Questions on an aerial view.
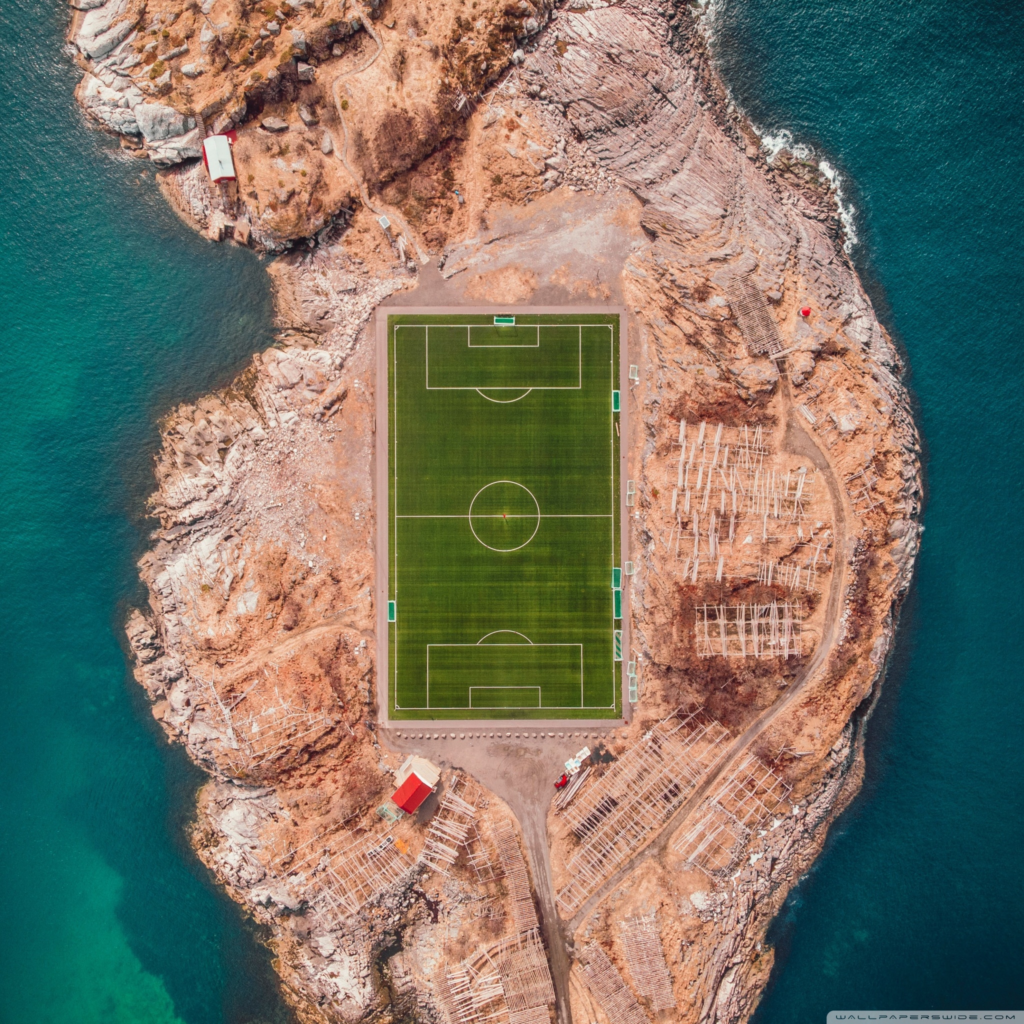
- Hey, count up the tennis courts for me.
0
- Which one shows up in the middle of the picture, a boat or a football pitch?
football pitch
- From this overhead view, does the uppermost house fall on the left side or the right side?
left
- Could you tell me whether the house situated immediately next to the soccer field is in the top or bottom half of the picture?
bottom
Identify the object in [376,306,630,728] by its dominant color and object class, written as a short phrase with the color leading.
green soccer field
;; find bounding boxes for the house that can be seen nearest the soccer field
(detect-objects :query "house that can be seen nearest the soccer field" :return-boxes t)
[392,754,441,814]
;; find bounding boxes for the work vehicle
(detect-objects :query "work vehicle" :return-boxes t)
[553,773,568,789]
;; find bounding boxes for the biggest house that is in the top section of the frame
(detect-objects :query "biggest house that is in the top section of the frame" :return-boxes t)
[203,133,236,185]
